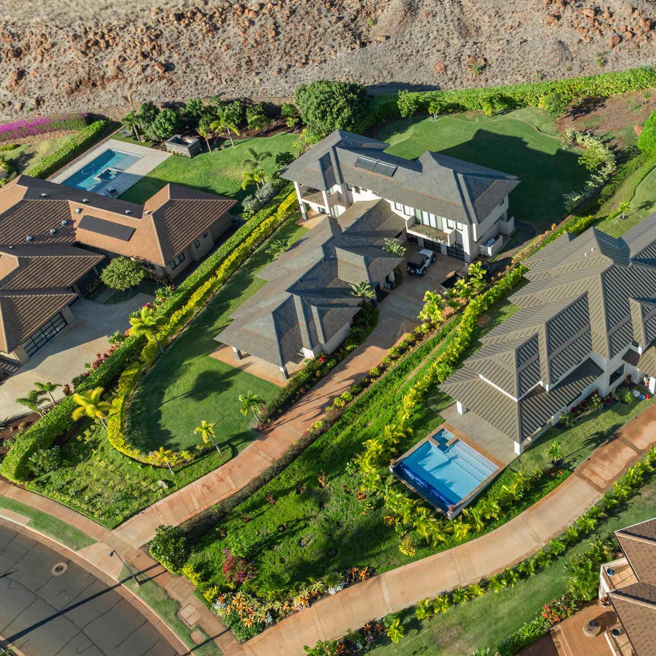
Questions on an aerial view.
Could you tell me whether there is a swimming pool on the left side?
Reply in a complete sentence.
Yes, there is a swimming pool on the left side.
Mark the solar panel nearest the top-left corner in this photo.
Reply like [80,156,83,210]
[77,215,135,241]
